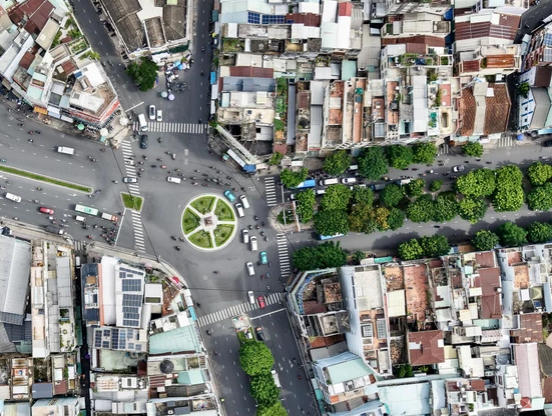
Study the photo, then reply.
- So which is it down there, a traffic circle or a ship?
traffic circle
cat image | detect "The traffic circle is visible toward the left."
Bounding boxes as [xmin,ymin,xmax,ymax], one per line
[182,194,237,250]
